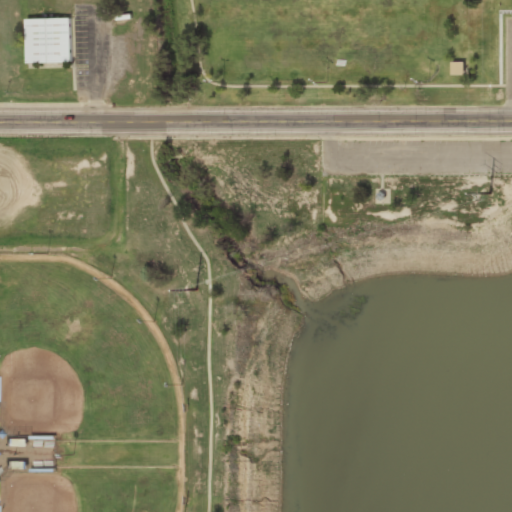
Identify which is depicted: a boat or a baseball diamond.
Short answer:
baseball diamond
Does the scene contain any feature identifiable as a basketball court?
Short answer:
No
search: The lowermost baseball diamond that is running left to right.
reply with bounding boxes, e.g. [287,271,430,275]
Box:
[0,454,186,512]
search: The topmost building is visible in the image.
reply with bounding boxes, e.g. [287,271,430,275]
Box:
[24,18,73,64]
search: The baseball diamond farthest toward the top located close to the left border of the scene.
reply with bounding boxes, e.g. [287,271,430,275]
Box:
[0,252,186,454]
